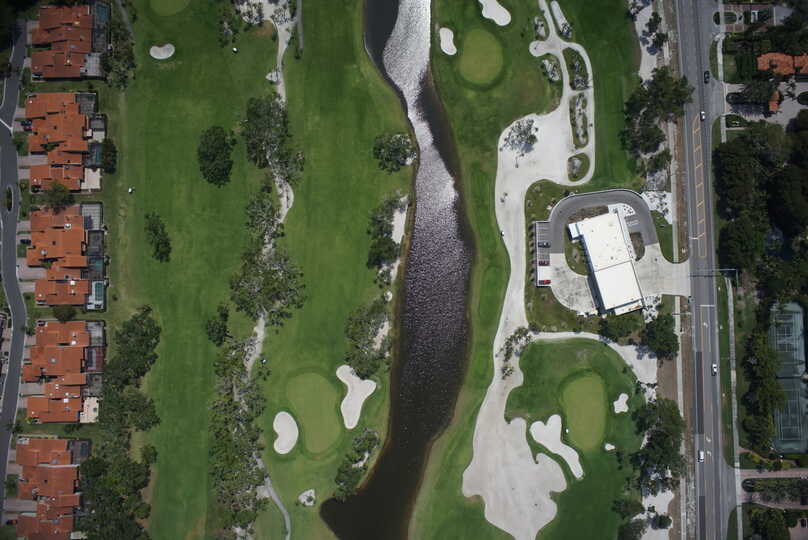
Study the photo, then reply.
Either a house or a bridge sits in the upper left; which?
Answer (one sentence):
What appears in the upper left is a house.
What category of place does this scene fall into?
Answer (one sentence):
What you see here is a golf course.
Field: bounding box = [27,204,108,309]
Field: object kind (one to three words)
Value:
house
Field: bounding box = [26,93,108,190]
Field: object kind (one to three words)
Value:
house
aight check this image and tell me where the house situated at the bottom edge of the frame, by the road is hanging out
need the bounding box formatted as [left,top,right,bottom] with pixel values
[17,437,95,540]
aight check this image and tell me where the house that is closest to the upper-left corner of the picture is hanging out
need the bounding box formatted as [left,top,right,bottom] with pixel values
[31,2,114,80]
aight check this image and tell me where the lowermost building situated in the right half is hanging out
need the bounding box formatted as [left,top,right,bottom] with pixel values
[566,213,644,315]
